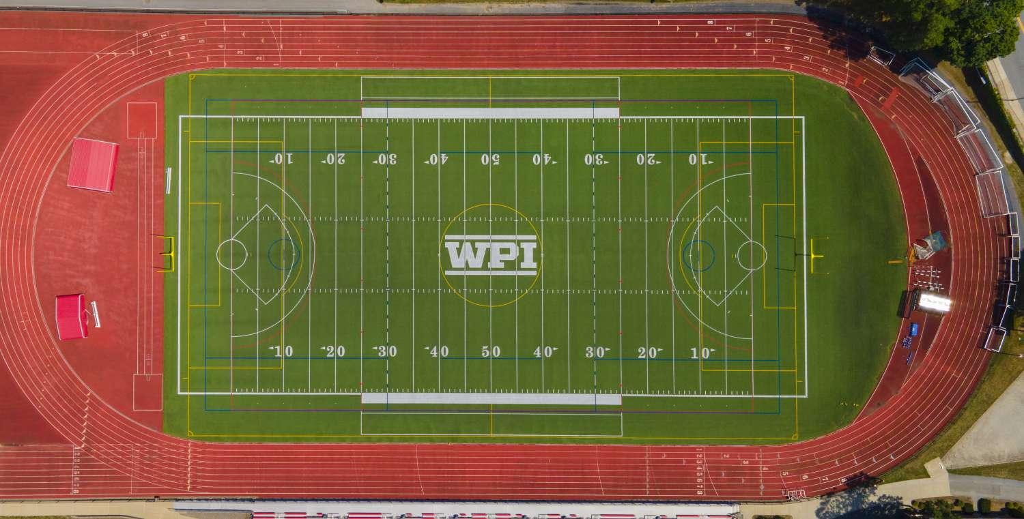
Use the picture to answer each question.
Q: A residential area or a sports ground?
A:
sports ground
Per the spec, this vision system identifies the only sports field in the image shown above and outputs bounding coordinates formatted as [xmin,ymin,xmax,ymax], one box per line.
[162,68,910,445]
